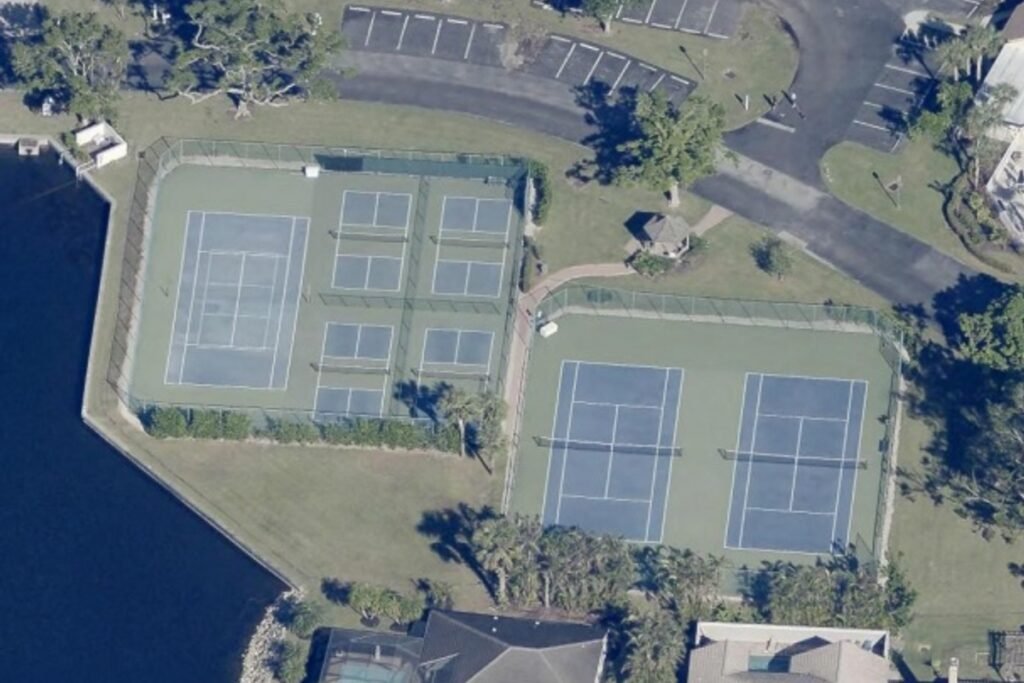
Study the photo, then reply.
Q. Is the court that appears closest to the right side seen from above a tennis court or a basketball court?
tennis court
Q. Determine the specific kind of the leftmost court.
tennis court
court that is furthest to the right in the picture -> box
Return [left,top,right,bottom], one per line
[724,372,869,555]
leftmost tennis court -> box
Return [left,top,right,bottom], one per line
[163,210,310,390]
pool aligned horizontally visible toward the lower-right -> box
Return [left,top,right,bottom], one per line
[750,656,789,674]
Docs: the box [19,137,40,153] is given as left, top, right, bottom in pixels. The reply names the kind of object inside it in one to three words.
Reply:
pier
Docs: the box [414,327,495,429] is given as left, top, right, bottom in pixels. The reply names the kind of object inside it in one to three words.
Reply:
sports court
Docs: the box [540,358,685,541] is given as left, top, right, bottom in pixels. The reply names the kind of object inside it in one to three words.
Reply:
tennis court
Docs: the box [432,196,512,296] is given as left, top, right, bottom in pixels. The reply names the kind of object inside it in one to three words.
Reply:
sports court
